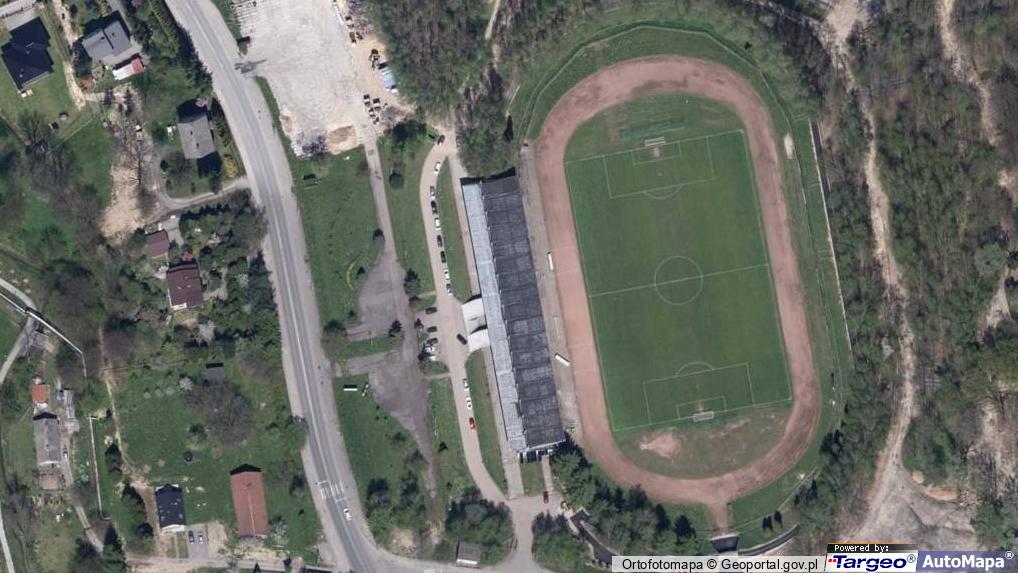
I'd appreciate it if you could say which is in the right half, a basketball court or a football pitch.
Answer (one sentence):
You can see a football pitch in the right half.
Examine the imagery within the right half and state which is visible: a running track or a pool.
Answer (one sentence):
Looking within the right half, you will find a running track.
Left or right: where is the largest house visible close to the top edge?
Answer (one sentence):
You can find the largest house visible close to the top edge on the left side of the picture.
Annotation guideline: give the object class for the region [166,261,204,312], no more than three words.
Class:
house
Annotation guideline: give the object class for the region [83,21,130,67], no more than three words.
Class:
house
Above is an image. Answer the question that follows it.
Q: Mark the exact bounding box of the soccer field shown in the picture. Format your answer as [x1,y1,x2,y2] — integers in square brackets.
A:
[565,129,791,433]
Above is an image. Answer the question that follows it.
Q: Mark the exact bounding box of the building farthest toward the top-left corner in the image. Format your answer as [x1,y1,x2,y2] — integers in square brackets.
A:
[3,18,55,84]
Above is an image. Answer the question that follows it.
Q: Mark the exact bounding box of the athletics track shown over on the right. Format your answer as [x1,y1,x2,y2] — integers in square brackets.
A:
[537,54,821,531]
